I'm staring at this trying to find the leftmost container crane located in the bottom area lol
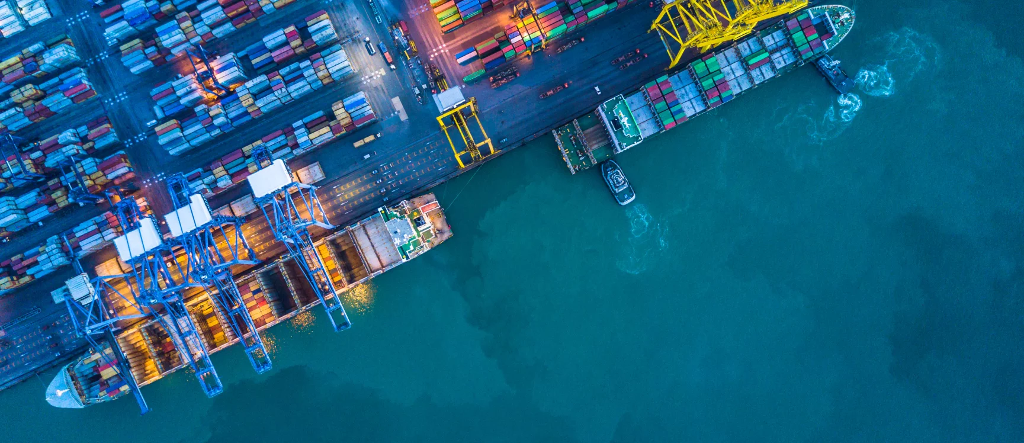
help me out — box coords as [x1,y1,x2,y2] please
[56,239,164,416]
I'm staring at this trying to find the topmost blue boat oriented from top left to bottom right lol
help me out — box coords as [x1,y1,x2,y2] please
[811,55,852,100]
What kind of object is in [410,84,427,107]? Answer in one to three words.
work vehicle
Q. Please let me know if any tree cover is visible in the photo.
No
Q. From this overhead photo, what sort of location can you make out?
port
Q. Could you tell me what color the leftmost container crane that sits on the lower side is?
blue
